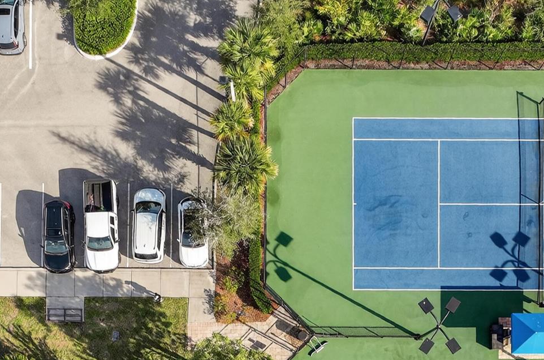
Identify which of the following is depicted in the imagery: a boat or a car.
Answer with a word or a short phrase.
car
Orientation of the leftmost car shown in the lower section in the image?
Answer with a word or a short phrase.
from top to bottom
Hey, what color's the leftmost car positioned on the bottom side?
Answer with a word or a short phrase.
black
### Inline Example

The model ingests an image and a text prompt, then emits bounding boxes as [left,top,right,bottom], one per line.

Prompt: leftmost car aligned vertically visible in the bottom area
[38,198,76,277]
